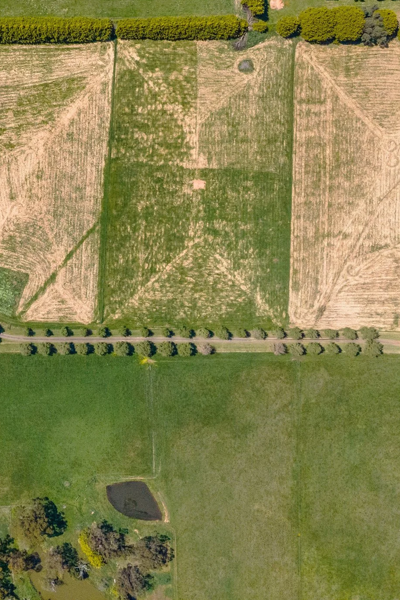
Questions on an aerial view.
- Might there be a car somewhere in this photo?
No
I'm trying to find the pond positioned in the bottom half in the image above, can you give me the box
[106,481,163,520]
